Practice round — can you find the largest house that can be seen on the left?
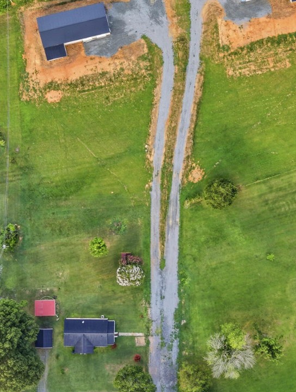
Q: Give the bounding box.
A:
[37,3,110,62]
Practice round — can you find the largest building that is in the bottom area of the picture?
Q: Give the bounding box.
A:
[63,318,114,355]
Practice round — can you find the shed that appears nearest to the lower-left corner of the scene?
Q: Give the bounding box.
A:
[35,327,53,350]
